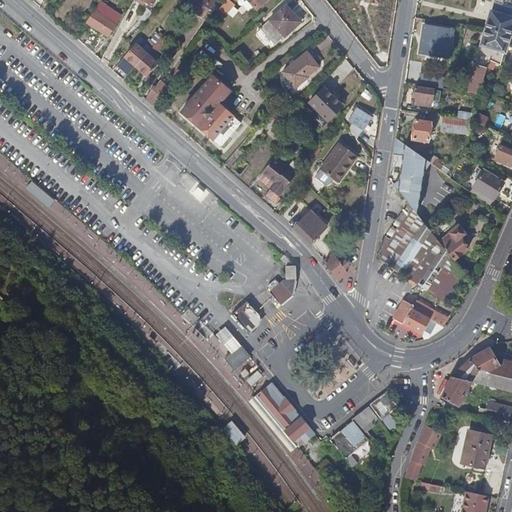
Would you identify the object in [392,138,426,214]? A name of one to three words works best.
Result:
building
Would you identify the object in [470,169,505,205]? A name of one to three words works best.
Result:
house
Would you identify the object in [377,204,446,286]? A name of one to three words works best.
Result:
building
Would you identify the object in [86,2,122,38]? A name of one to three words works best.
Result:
house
